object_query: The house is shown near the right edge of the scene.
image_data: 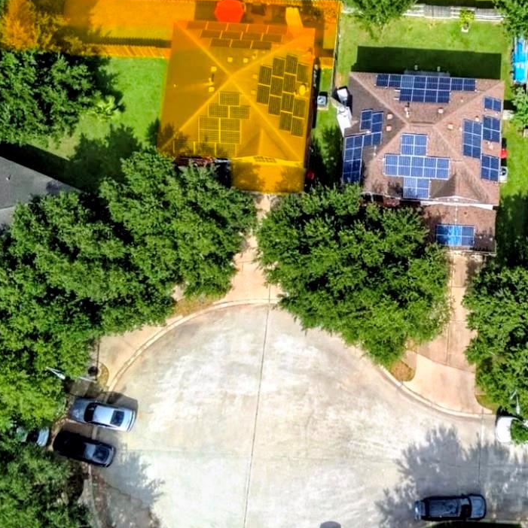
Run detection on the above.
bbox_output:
[340,66,506,254]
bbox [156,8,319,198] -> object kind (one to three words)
house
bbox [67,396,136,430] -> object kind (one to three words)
car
